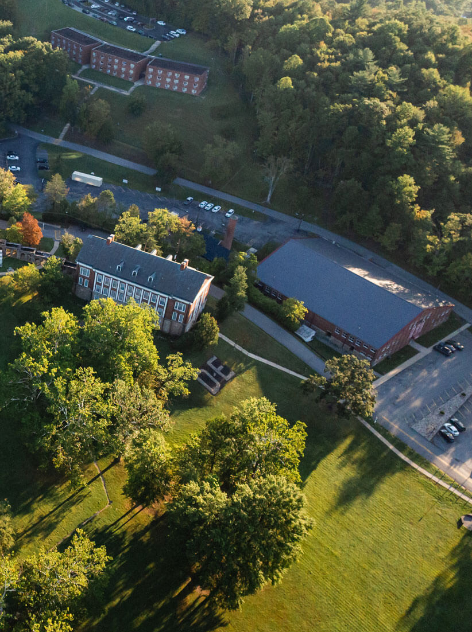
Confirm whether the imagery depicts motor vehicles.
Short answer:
Yes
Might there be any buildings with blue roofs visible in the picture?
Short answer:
Yes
